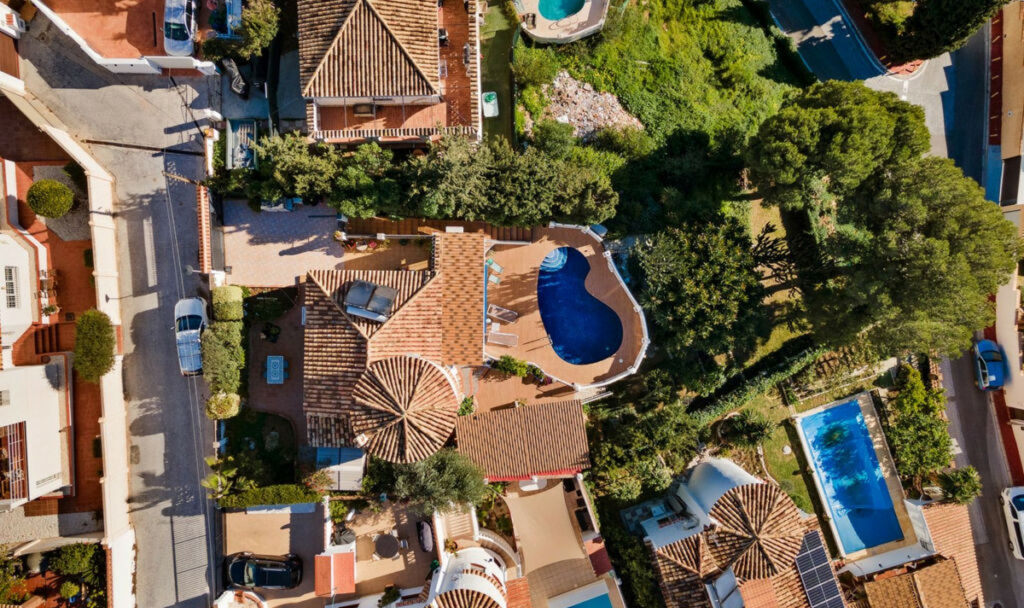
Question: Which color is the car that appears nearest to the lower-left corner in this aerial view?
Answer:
black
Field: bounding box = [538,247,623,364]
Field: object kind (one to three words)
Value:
swimming pool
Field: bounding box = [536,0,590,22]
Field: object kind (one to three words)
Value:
swimming pool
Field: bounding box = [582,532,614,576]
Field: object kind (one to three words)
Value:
shed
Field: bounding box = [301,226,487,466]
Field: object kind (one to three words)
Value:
house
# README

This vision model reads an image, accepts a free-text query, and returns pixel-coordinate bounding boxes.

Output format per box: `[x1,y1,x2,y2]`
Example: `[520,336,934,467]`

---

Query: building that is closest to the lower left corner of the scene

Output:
[0,352,72,508]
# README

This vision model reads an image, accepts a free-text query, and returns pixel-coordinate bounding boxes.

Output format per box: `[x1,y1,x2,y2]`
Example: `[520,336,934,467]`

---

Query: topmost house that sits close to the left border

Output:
[0,4,41,88]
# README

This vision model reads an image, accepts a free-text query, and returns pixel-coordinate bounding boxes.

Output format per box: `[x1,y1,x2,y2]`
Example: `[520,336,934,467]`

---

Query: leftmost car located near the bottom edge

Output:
[229,543,309,586]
